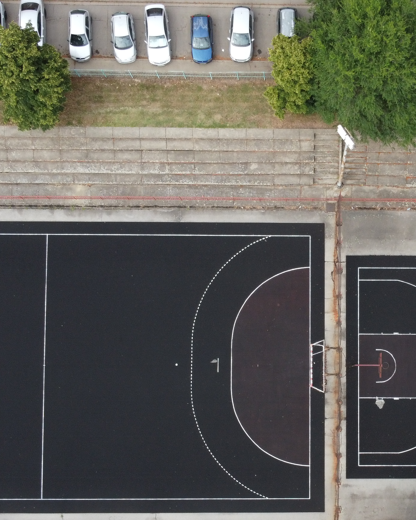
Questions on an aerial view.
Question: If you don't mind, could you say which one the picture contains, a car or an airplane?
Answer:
car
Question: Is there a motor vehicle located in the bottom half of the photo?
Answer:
No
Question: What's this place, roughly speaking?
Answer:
sports ground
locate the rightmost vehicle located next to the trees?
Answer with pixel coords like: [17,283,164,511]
[273,8,298,43]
